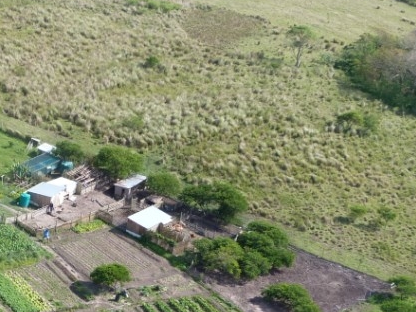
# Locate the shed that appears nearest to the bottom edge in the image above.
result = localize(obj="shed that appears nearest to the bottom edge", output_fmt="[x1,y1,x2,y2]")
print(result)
[128,205,172,243]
